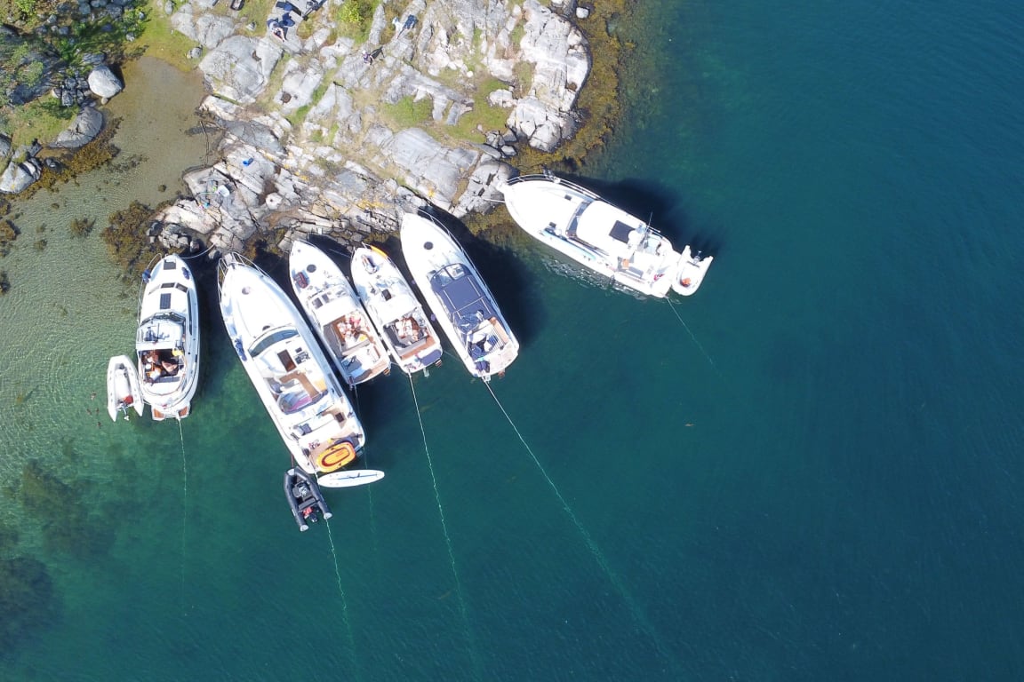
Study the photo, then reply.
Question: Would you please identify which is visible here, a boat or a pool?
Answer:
boat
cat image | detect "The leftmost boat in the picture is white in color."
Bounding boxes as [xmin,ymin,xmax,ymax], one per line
[107,355,144,417]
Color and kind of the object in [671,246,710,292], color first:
white boat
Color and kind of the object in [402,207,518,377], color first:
white boat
